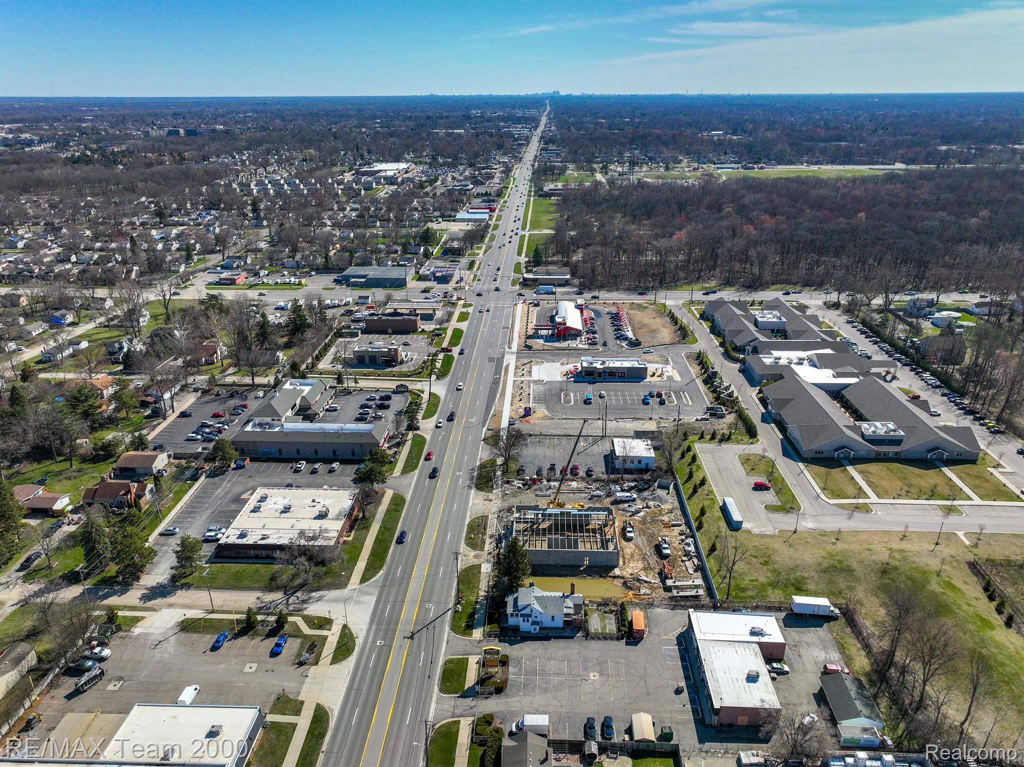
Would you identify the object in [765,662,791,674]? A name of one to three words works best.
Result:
vehicle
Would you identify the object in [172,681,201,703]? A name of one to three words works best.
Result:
vehicle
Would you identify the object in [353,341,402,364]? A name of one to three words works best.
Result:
building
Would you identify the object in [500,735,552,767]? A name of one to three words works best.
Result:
house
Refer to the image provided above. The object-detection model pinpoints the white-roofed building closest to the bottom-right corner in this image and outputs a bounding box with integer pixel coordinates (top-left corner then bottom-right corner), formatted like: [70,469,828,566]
[680,609,785,728]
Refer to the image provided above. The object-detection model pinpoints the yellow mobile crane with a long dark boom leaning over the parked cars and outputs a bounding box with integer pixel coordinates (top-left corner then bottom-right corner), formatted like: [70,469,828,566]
[545,419,587,509]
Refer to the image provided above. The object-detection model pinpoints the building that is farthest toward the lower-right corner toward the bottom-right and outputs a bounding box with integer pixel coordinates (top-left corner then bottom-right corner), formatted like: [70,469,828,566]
[817,669,892,736]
